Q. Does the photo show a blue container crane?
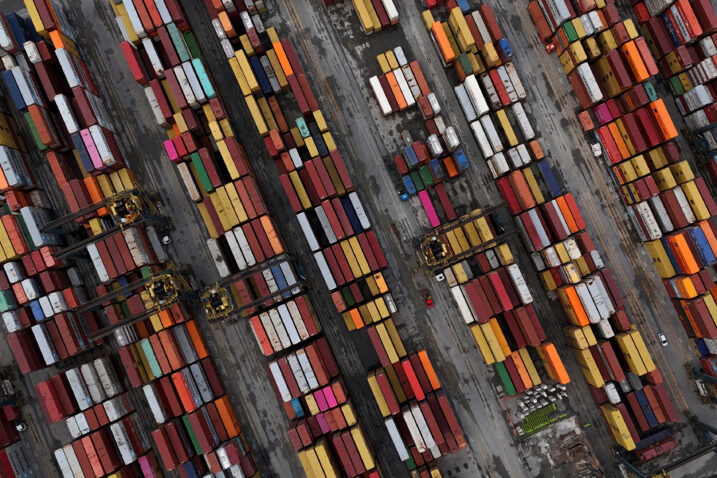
No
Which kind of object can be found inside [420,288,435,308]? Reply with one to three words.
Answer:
vehicle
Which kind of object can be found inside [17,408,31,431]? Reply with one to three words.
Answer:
vehicle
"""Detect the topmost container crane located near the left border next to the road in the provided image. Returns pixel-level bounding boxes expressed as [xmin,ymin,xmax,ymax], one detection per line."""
[36,185,177,265]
